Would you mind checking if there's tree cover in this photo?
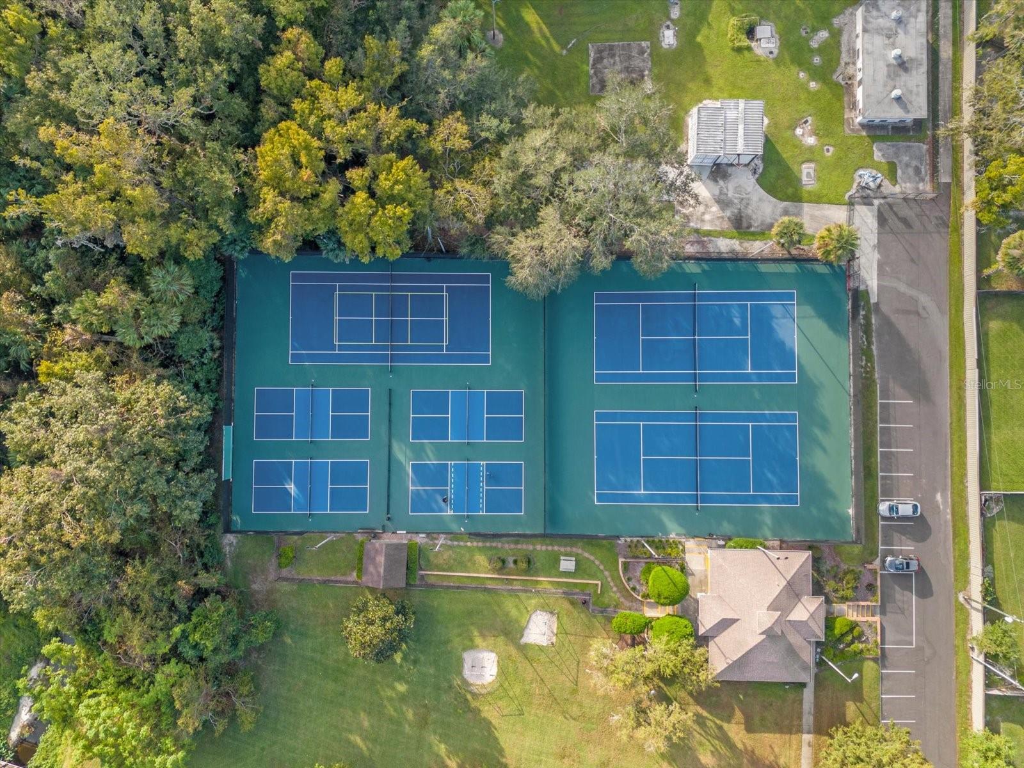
Yes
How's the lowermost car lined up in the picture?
from side to side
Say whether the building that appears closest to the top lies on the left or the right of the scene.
right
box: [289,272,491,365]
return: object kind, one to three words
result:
tennis court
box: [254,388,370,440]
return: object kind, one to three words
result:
sports court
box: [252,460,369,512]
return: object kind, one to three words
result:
sports court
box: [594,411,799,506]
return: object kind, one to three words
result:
tennis court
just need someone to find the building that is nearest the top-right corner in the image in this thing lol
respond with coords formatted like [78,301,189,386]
[857,0,927,125]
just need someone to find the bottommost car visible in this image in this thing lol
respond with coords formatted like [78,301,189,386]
[885,555,924,575]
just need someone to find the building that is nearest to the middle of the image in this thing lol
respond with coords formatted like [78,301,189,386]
[362,539,409,588]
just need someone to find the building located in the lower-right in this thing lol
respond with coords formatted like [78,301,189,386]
[693,549,825,682]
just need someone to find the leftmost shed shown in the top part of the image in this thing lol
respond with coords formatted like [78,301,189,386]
[688,100,764,166]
